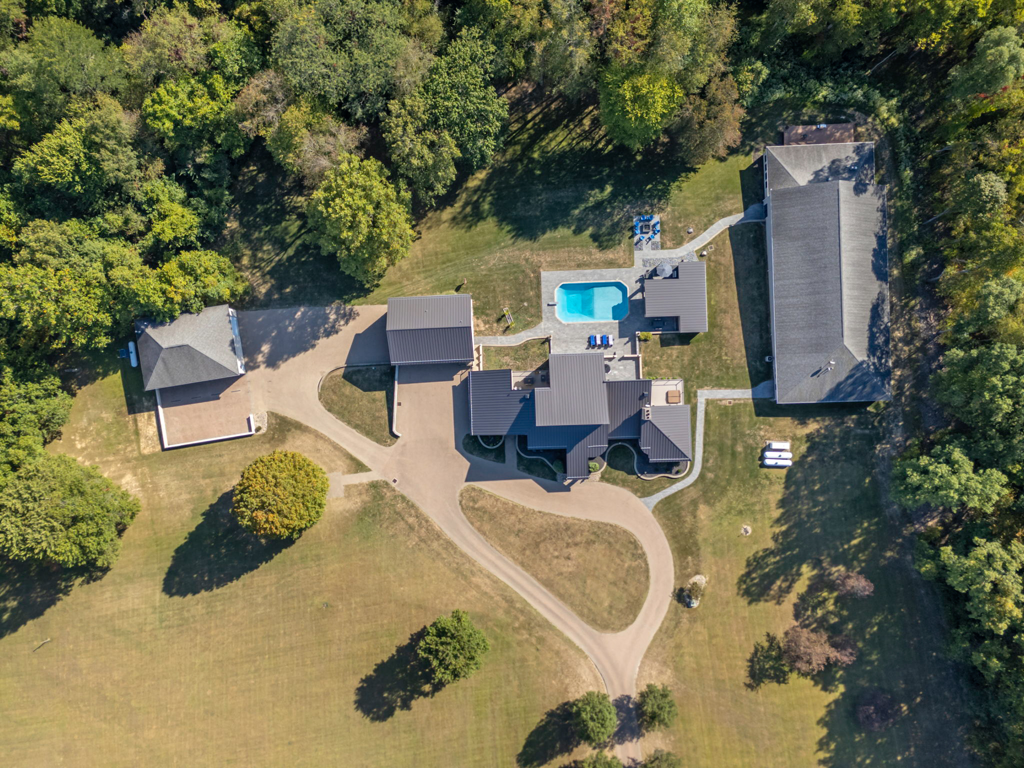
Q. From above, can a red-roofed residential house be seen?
No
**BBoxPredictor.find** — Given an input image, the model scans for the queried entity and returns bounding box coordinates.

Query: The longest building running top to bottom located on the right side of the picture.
[761,142,892,404]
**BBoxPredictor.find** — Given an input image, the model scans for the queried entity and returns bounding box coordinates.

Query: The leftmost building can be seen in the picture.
[135,305,245,390]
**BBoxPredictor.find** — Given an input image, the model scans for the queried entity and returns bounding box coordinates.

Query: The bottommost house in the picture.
[469,353,693,479]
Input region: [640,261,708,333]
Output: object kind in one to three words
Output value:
building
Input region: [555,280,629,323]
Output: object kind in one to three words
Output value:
swimming pool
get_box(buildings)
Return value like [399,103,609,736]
[135,305,245,390]
[761,142,892,404]
[469,353,693,479]
[640,261,708,333]
[386,294,475,366]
